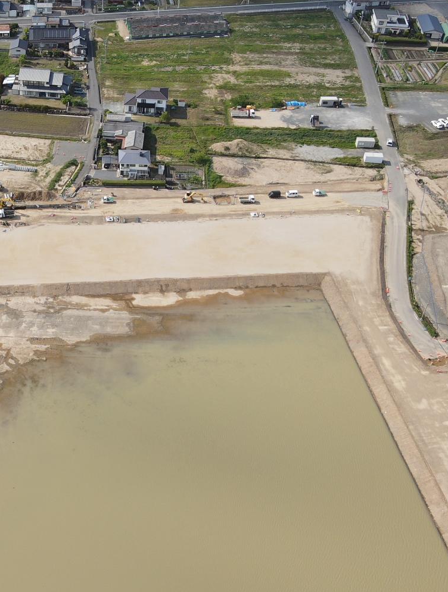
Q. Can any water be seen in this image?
Yes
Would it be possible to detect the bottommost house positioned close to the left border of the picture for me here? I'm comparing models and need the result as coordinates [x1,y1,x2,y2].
[8,65,73,100]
